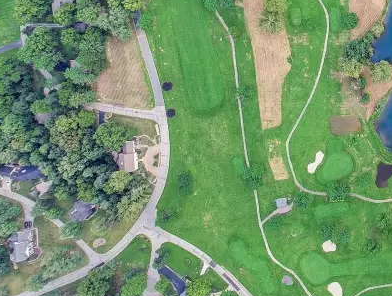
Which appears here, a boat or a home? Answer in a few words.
home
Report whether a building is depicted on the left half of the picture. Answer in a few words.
Yes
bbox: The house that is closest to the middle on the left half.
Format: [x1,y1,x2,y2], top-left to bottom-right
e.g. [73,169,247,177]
[111,141,138,171]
